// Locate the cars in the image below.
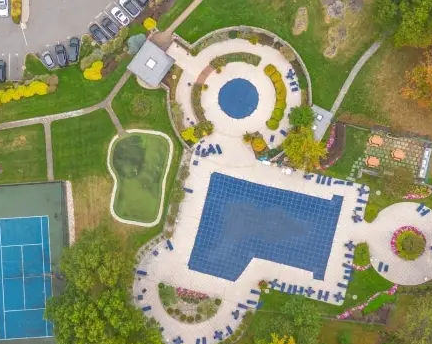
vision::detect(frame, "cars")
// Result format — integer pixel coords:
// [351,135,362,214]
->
[69,38,81,64]
[100,15,120,37]
[134,0,153,11]
[119,0,143,20]
[41,50,55,70]
[0,59,8,84]
[109,5,131,27]
[54,44,69,70]
[88,22,109,46]
[0,0,9,19]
